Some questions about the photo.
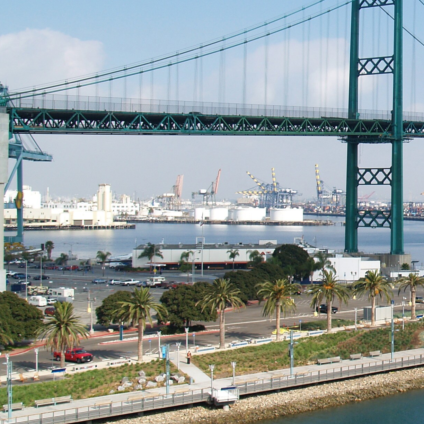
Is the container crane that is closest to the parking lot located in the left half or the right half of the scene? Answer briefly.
left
